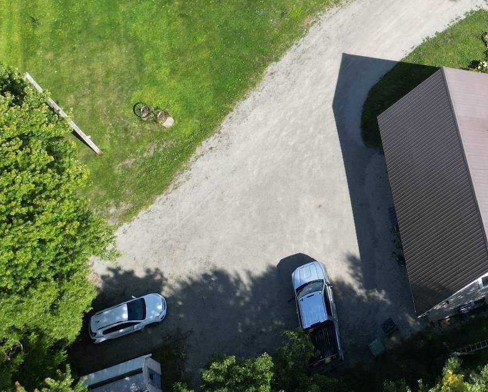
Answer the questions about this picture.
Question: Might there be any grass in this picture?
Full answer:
Yes, grass shows up in the scene.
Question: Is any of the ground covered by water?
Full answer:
No, no water is visible.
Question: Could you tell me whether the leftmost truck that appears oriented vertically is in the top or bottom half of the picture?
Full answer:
It is in the bottom half that the leftmost truck that appears oriented vertically appears.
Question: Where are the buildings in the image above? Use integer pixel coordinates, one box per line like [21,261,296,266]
[61,345,165,392]
[379,67,488,323]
